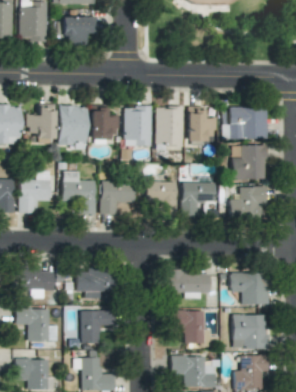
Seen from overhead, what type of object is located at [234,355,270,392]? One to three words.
house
